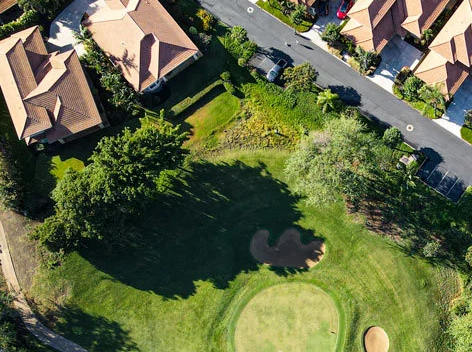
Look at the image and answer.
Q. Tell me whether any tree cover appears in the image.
Yes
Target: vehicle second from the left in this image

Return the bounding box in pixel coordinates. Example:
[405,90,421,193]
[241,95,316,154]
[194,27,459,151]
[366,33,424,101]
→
[317,0,329,19]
